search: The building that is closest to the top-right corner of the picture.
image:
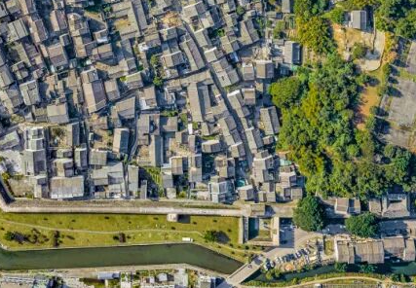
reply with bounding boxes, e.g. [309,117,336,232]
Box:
[349,9,371,30]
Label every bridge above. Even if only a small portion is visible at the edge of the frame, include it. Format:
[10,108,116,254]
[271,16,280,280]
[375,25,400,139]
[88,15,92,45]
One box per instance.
[221,248,273,288]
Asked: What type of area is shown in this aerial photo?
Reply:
residential area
